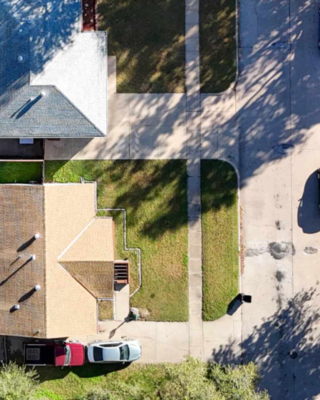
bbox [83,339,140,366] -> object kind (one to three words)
car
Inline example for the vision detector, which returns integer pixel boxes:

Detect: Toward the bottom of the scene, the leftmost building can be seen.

[0,182,116,339]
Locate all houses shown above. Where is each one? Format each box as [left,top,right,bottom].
[0,0,109,139]
[0,182,116,339]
